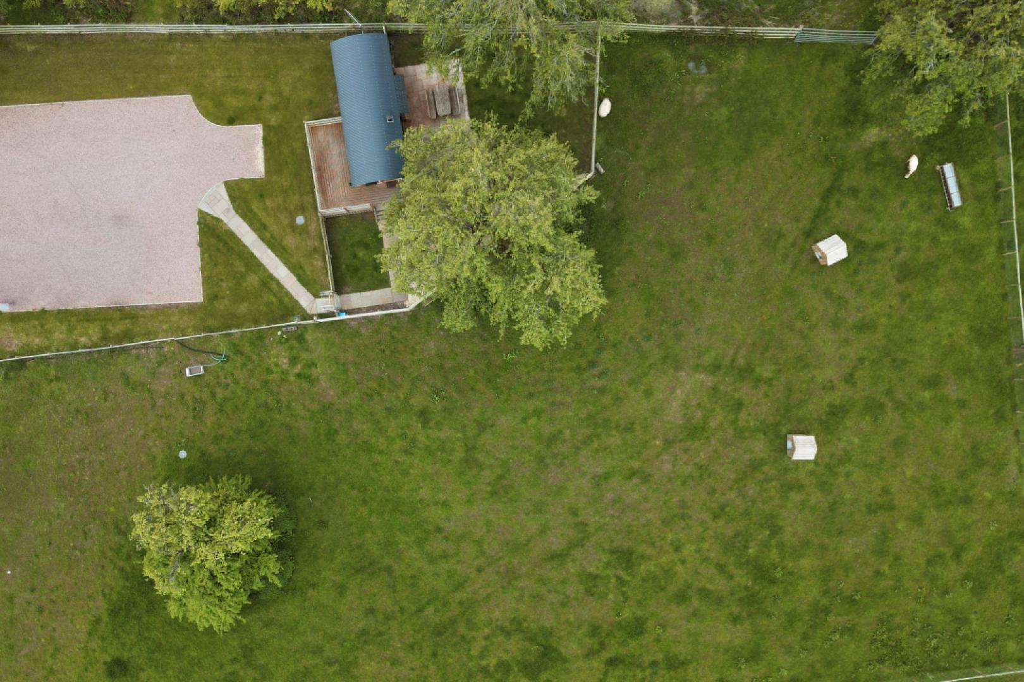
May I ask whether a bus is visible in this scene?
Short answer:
No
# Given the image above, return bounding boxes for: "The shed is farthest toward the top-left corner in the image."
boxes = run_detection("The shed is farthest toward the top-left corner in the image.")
[329,34,409,185]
